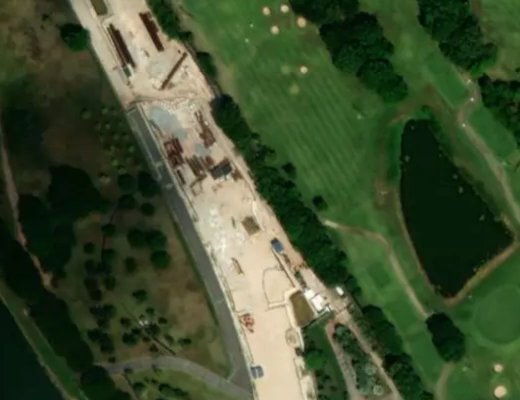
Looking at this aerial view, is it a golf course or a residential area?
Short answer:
golf course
